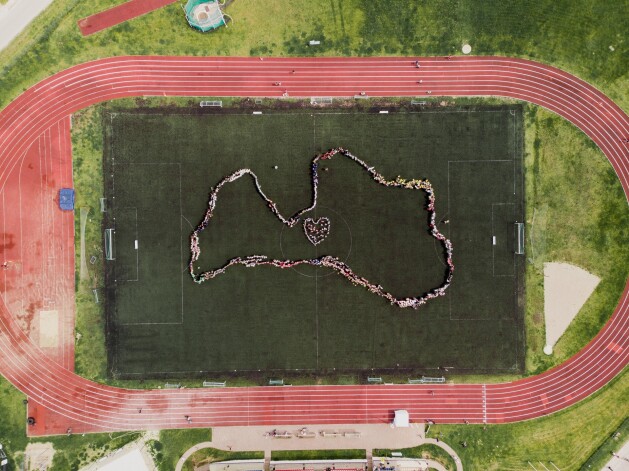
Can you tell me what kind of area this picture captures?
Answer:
sports ground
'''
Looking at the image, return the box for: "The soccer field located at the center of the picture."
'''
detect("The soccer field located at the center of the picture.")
[106,105,526,380]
